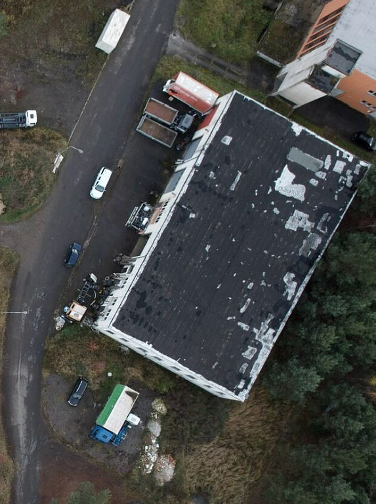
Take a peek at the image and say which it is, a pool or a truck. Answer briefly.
truck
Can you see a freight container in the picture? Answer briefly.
Yes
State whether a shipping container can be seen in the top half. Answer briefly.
Yes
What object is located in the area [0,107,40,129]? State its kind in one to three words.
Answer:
truck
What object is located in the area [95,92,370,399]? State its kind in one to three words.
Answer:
building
